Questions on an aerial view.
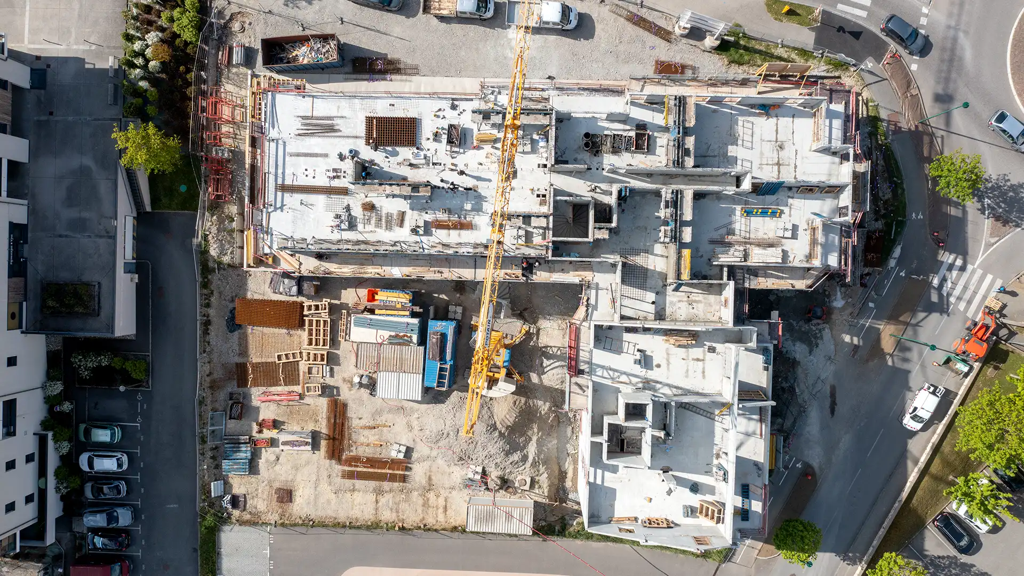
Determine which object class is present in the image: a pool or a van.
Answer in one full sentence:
Looking from above, you can make out a van.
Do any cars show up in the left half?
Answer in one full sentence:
Yes, a car can be seen in the left half.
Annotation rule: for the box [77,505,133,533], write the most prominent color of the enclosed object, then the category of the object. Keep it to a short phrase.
blue car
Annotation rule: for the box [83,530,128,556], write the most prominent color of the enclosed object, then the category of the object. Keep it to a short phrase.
black car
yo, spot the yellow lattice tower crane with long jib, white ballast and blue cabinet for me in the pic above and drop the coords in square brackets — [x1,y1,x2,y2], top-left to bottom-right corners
[460,0,535,435]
